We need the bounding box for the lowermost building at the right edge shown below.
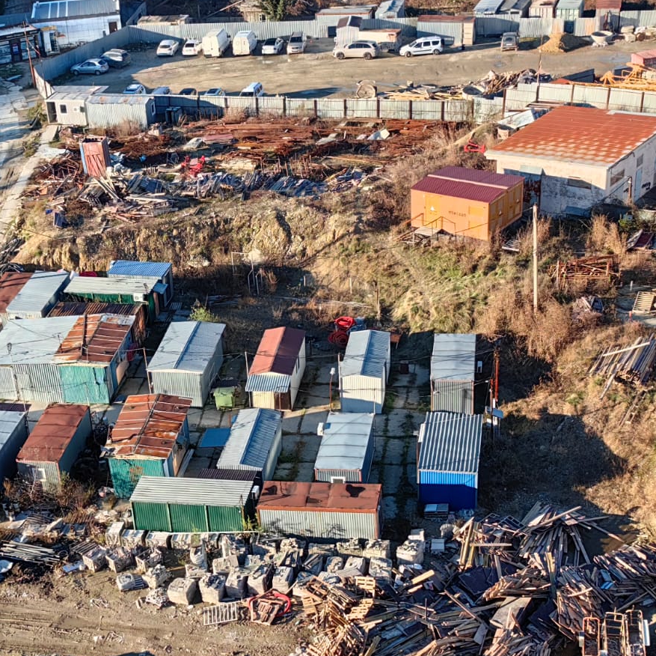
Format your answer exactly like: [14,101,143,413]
[482,102,656,216]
